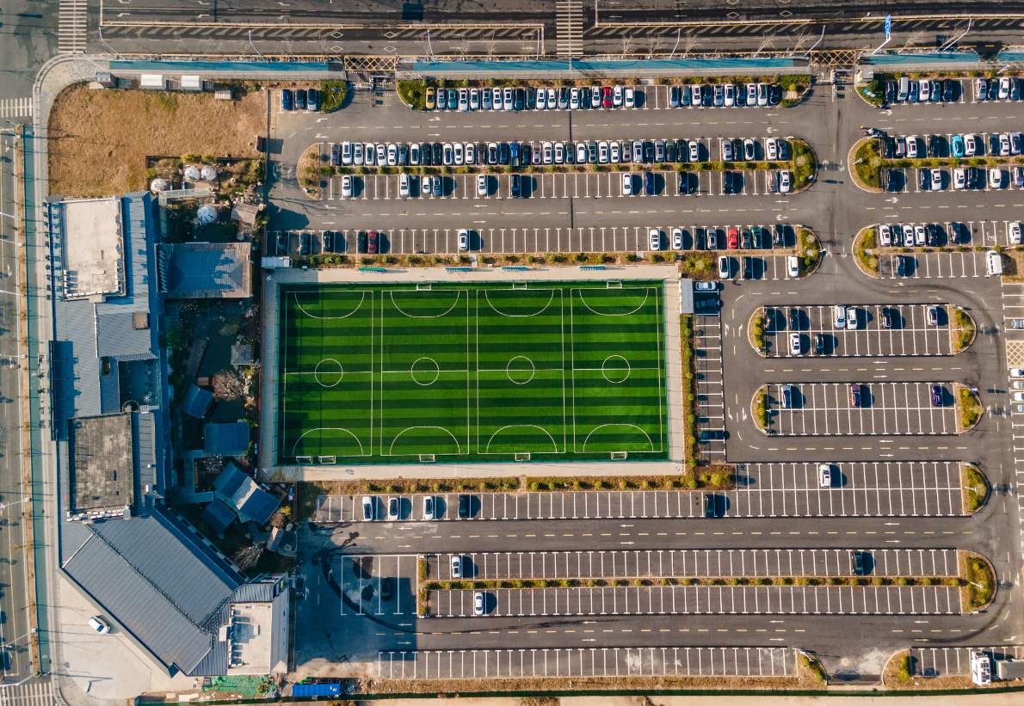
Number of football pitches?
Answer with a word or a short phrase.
4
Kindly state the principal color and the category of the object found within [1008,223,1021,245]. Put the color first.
white vehicle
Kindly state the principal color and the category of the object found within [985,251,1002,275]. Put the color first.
white vehicle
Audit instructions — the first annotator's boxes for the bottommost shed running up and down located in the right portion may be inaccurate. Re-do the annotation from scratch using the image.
[678,279,693,314]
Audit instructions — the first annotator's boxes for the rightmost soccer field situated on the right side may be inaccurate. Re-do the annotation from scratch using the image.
[567,279,669,462]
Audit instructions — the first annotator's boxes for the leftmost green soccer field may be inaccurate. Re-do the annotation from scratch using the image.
[277,282,377,465]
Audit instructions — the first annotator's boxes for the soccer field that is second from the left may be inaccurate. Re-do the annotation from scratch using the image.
[376,281,473,464]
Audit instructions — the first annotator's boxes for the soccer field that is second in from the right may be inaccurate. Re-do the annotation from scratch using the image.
[472,280,570,463]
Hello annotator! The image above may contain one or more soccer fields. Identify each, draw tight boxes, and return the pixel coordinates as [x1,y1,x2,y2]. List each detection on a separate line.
[567,279,669,462]
[472,280,570,463]
[277,282,377,465]
[376,281,473,464]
